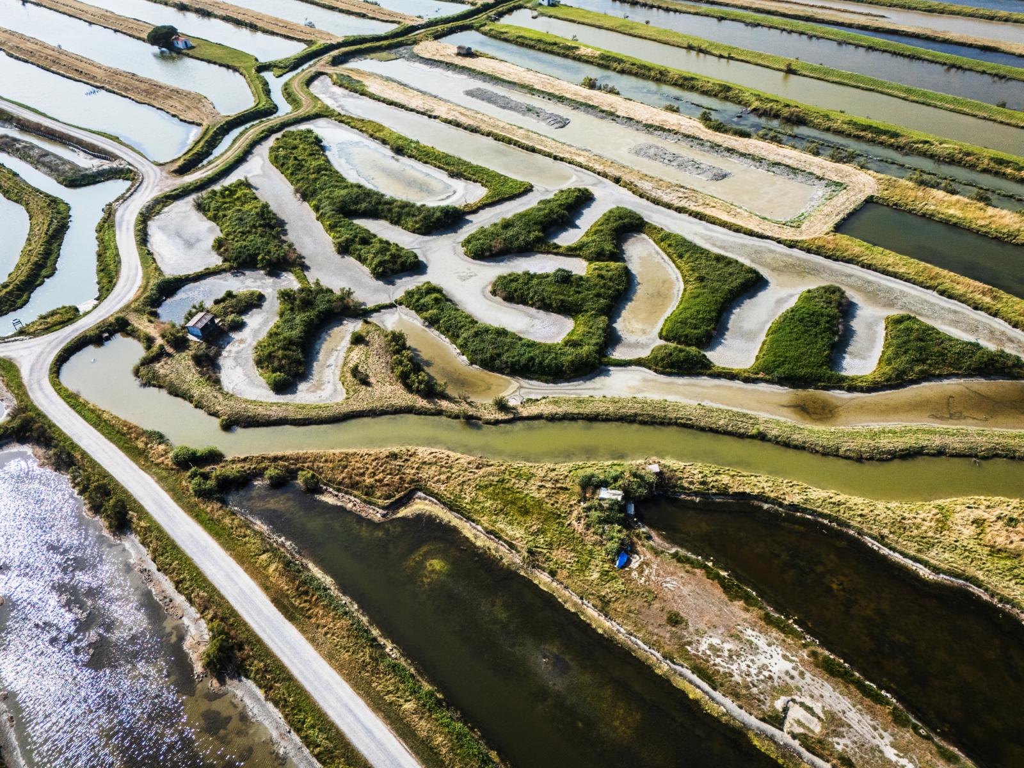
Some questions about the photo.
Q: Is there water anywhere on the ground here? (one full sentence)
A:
Yes, the picture does contain water.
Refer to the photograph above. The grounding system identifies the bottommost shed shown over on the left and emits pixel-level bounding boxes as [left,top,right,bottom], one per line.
[185,312,216,340]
